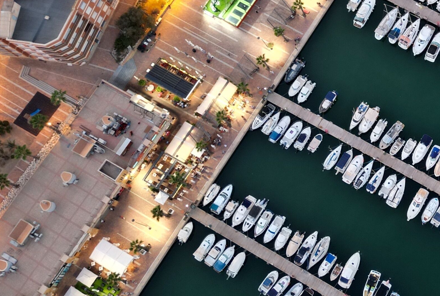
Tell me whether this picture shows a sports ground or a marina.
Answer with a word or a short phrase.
marina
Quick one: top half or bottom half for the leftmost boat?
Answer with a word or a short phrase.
bottom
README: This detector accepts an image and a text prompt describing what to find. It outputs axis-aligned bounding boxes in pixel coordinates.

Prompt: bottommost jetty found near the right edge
[267,91,440,195]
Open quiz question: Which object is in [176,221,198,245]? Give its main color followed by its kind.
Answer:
white boat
